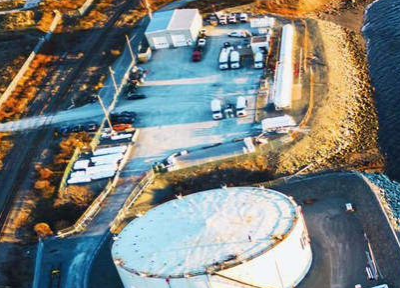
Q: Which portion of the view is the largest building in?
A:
top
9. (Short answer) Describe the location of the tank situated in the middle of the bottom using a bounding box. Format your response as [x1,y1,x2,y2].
[111,185,313,288]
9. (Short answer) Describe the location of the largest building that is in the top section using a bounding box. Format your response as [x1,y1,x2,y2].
[147,8,196,49]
